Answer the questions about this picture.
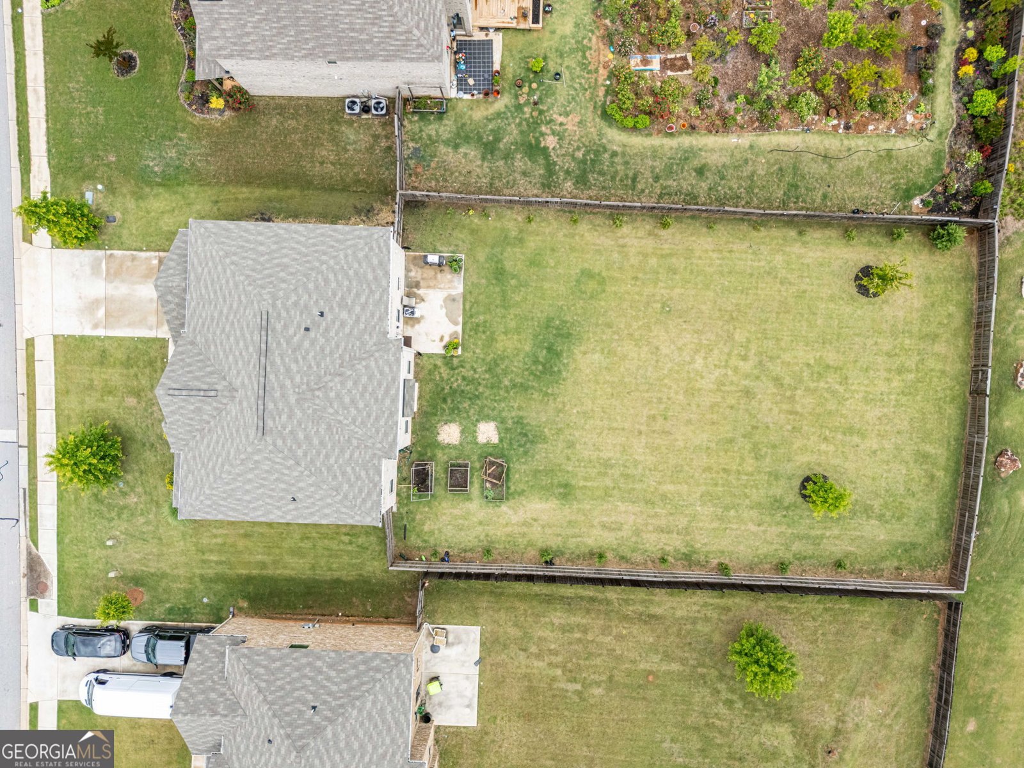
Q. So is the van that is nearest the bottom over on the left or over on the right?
left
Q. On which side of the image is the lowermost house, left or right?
left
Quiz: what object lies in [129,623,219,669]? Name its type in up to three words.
truck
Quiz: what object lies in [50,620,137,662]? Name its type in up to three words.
car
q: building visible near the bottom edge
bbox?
[171,605,439,768]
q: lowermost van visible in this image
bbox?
[79,668,185,719]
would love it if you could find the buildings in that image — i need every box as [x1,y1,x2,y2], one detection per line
[155,219,425,527]
[191,0,472,98]
[171,605,439,768]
